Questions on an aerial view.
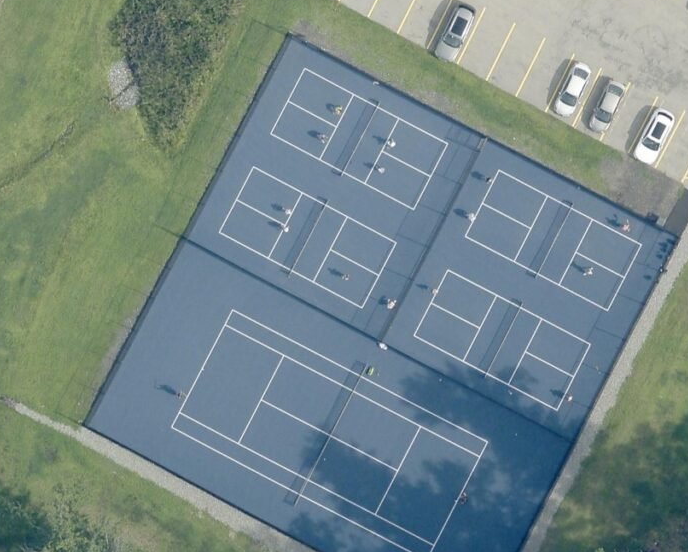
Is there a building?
No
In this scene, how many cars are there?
4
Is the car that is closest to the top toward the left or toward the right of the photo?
right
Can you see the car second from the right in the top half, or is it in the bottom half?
top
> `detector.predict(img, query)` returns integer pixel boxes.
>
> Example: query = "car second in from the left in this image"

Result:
[553,61,594,116]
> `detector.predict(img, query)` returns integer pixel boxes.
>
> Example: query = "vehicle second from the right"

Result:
[587,79,626,132]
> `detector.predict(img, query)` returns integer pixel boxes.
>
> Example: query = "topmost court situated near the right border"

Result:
[434,137,676,338]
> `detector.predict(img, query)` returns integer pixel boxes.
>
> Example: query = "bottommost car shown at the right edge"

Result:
[634,107,675,164]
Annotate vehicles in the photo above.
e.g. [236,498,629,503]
[587,79,626,132]
[553,61,594,116]
[634,107,675,164]
[435,5,477,61]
